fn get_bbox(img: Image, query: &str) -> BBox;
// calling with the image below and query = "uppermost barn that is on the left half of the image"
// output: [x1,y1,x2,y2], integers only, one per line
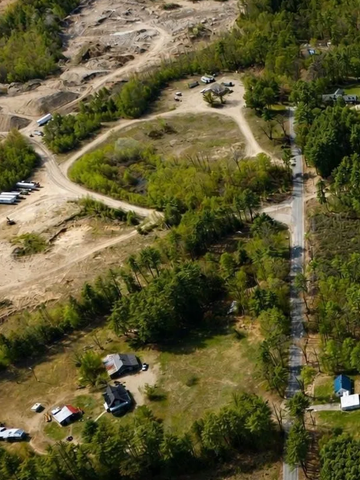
[105,352,141,382]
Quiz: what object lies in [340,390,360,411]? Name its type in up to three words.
building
